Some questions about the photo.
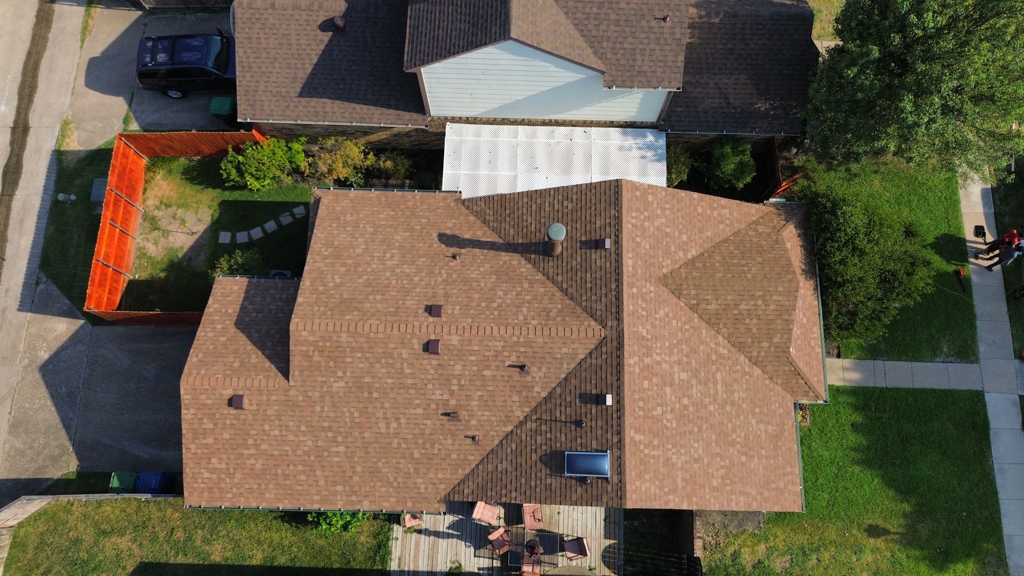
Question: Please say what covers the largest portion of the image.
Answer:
buildings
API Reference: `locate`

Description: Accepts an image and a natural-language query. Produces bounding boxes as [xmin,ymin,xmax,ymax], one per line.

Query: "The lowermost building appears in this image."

[182,178,831,518]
